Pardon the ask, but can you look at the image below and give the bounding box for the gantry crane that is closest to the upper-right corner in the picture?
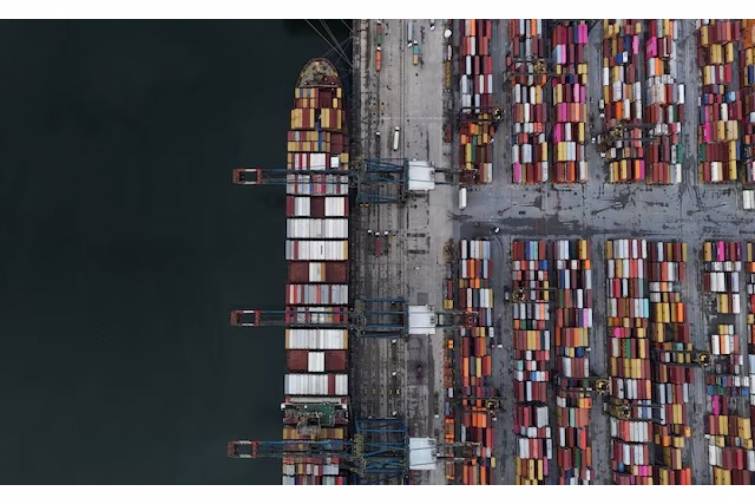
[591,123,658,150]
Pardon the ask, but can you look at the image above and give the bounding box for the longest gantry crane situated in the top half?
[231,158,480,211]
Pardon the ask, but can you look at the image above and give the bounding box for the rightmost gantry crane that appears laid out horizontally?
[645,341,712,365]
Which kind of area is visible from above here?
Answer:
port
